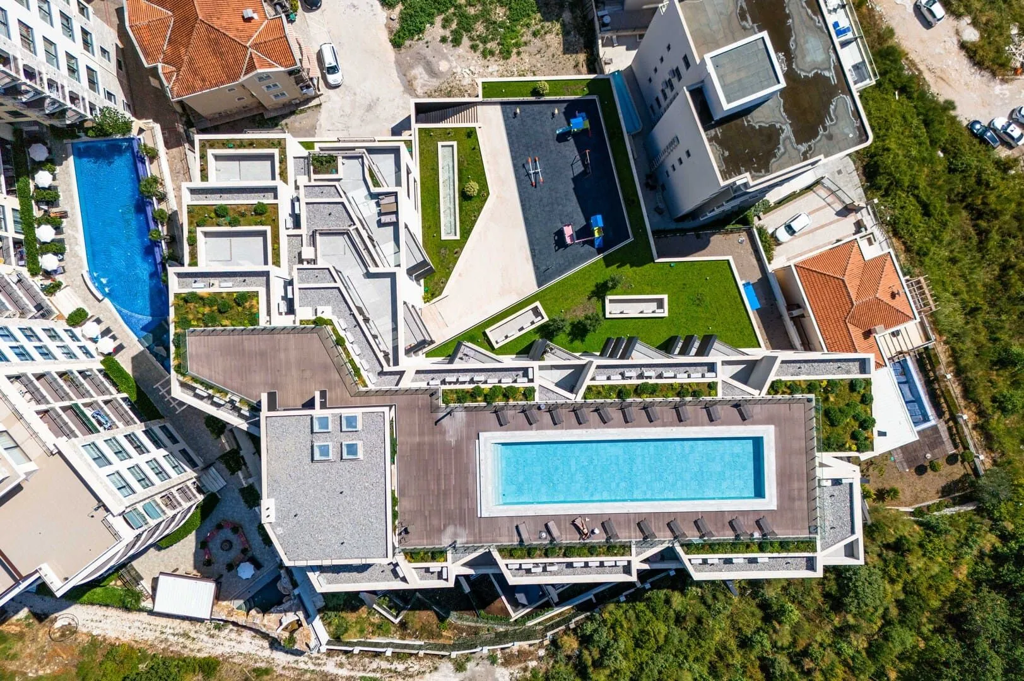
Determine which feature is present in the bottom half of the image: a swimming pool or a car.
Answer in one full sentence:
What appears in the bottom half of the image is a swimming pool.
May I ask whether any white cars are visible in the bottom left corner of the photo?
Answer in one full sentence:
No, I see no white car in the bottom left corner of the photo.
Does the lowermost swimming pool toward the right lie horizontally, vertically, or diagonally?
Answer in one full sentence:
What the image shows is the lowermost swimming pool toward the right lying horizontally.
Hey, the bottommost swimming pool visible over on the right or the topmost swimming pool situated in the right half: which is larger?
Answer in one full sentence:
Compared with the topmost swimming pool situated in the right half, the bottommost swimming pool visible over on the right is the bigger one.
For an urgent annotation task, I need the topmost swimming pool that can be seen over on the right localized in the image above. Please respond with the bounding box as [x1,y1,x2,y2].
[614,74,640,137]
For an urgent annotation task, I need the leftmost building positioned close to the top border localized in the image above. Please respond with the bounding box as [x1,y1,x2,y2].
[0,0,128,143]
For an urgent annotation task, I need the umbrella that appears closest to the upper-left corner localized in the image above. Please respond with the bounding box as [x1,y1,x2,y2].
[30,142,56,162]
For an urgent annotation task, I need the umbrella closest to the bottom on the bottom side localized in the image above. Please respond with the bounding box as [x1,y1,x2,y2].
[237,559,257,579]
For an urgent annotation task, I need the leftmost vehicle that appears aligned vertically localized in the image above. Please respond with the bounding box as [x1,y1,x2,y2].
[316,37,344,87]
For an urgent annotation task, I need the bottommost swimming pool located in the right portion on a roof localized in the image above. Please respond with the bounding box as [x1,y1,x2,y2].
[510,437,759,501]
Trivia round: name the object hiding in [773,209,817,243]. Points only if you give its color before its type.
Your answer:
white car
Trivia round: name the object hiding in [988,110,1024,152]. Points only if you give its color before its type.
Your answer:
white car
